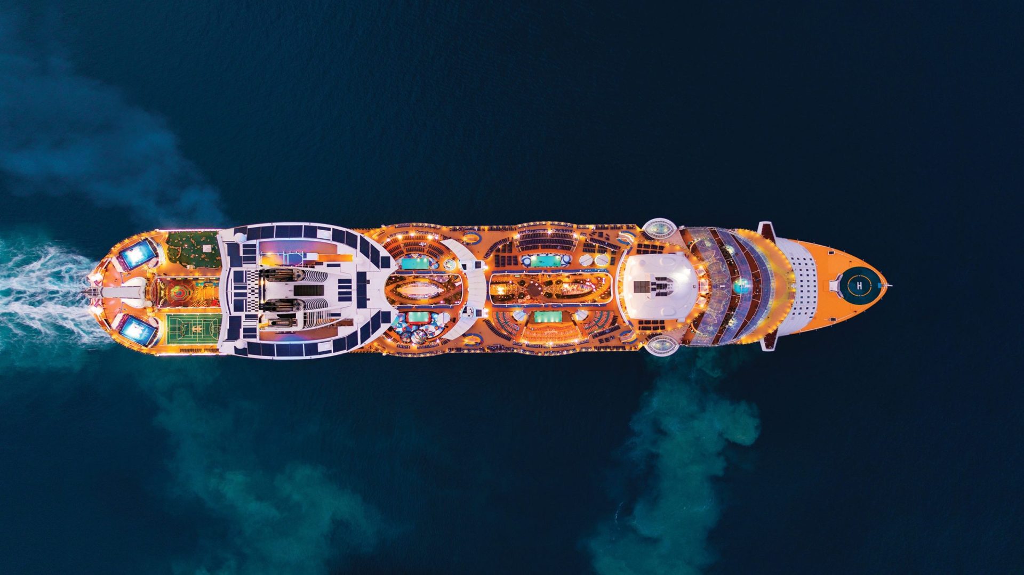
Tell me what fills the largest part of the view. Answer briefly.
water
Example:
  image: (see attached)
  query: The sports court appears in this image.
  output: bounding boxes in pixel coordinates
[164,313,224,345]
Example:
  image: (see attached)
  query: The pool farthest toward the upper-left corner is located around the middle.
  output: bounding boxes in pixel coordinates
[397,253,440,269]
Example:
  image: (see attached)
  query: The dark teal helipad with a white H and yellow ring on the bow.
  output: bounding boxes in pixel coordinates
[827,266,881,305]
